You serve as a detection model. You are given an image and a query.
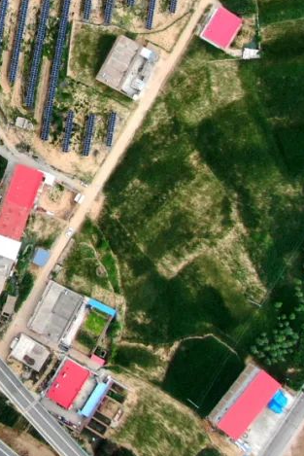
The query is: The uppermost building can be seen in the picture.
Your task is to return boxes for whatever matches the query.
[198,6,242,48]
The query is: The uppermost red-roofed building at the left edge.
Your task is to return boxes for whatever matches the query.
[4,164,46,206]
